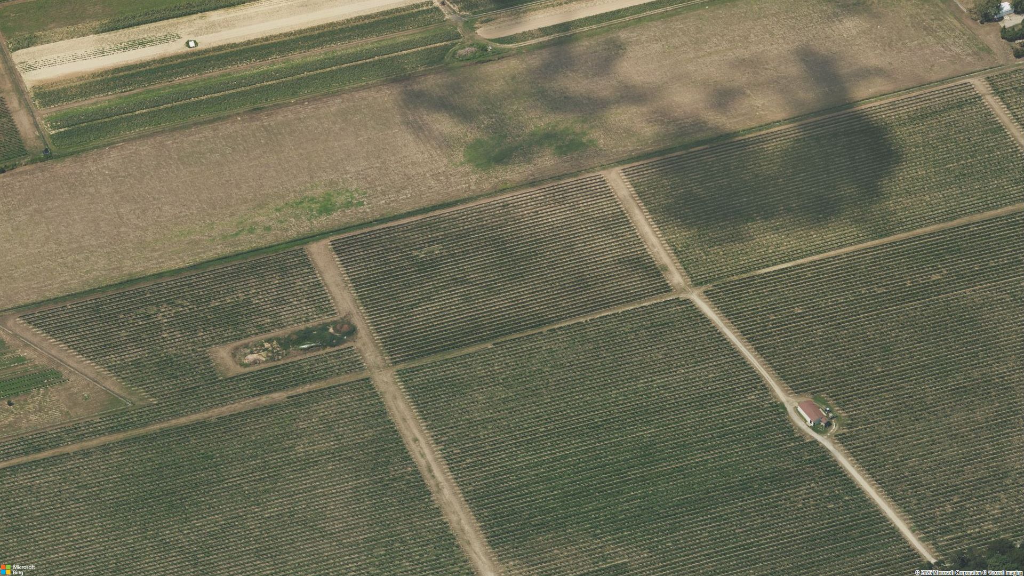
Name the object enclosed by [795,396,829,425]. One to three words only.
barn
